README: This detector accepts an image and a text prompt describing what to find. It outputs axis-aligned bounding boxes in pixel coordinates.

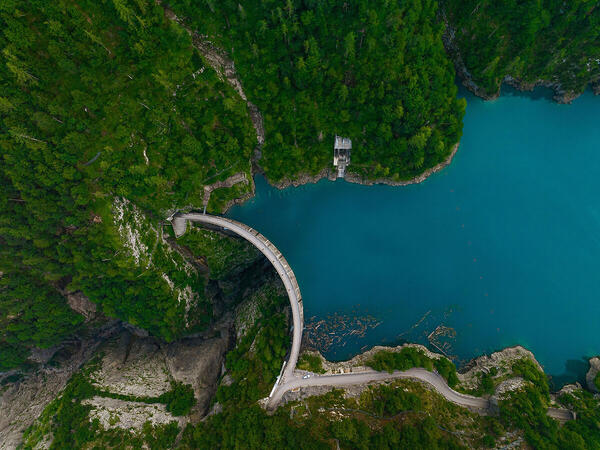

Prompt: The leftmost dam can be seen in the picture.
[172,212,306,380]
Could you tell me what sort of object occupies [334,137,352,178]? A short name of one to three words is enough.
house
